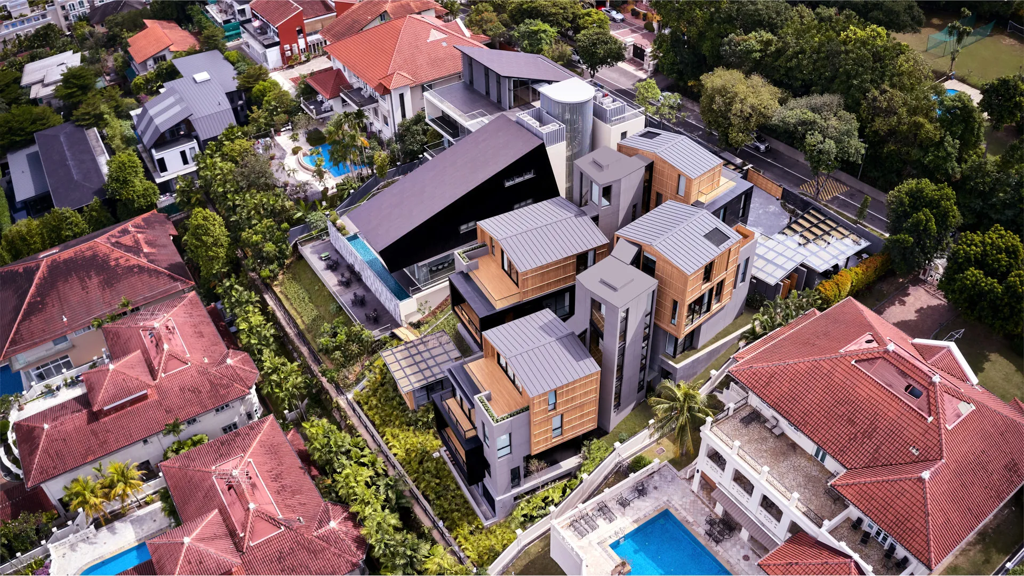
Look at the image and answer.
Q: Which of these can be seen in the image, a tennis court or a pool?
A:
pool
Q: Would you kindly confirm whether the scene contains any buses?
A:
No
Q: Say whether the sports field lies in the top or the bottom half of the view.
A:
top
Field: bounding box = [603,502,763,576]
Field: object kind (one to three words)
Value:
swimming pool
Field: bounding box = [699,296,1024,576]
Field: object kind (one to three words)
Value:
house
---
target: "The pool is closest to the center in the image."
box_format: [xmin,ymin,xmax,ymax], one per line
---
[329,222,419,327]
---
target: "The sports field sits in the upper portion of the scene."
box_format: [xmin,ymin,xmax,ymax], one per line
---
[894,1,1024,134]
